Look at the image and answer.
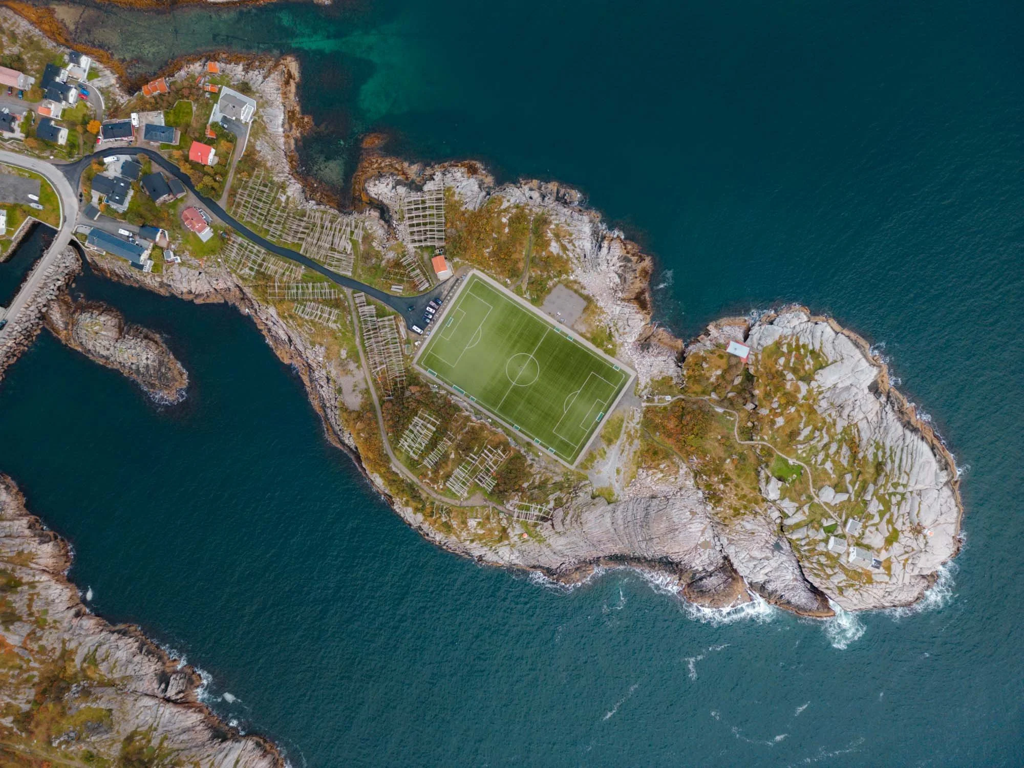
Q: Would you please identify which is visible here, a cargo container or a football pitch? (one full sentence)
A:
The image shows a football pitch.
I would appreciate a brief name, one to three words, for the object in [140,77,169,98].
building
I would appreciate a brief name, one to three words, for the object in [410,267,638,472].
soccer field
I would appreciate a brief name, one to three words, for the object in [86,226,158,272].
house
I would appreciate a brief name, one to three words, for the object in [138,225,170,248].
building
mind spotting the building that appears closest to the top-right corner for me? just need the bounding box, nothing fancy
[725,338,750,363]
